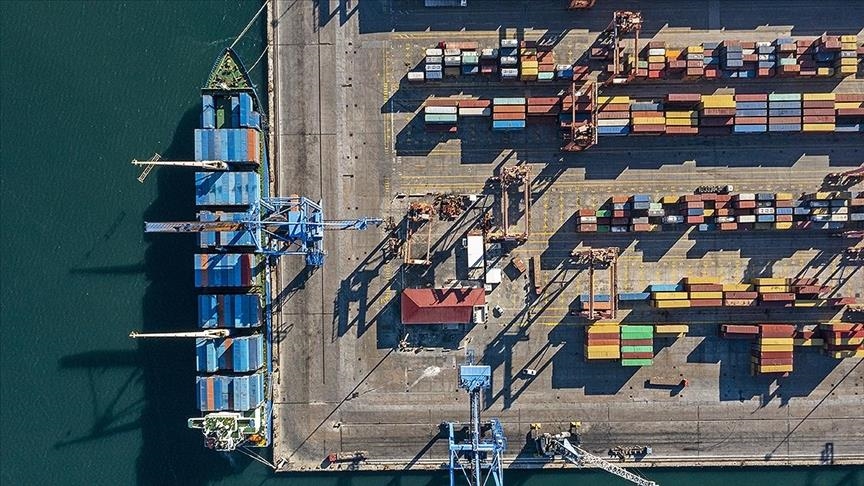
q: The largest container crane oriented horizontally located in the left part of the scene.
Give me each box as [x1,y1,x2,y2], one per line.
[143,194,380,261]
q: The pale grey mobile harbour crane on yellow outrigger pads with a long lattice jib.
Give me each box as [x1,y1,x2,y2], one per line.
[532,422,660,486]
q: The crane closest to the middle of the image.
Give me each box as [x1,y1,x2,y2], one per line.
[402,211,438,265]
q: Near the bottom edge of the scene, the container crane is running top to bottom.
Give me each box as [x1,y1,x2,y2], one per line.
[439,346,506,486]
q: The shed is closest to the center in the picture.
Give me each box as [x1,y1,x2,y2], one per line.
[467,232,484,266]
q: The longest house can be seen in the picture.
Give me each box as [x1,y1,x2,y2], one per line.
[402,287,485,326]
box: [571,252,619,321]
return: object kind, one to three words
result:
container crane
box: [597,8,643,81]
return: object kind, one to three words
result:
container crane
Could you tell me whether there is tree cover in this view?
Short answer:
No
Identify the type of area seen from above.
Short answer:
port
